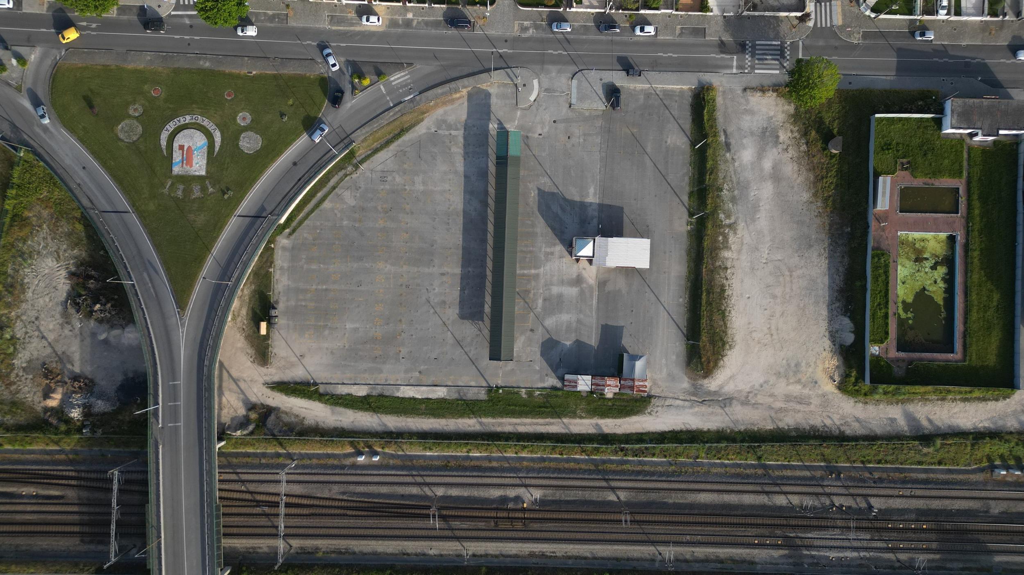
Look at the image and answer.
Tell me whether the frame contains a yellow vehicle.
Yes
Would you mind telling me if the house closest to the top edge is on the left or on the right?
right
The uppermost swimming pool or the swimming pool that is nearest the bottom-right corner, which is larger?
the swimming pool that is nearest the bottom-right corner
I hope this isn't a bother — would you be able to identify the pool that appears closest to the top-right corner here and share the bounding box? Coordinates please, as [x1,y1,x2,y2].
[898,185,960,214]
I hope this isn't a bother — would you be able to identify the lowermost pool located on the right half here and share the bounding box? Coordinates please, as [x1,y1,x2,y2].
[896,233,957,354]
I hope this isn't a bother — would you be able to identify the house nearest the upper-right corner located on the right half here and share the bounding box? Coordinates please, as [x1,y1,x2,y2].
[934,99,1024,140]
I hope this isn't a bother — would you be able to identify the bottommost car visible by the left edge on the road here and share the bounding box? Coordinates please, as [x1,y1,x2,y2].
[33,103,48,123]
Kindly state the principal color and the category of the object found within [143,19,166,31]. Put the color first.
black vehicle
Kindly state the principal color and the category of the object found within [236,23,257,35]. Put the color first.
white vehicle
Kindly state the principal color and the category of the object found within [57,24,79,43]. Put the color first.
yellow vehicle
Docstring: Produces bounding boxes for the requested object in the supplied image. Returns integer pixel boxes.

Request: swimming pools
[898,185,960,214]
[896,233,957,354]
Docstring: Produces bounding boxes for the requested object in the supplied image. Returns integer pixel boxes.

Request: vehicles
[309,122,329,143]
[611,87,622,110]
[143,19,166,31]
[323,47,337,71]
[236,23,257,35]
[1016,49,1024,58]
[33,103,48,123]
[330,88,342,109]
[57,24,79,43]
[915,28,936,40]
[552,20,572,31]
[634,25,656,35]
[0,0,12,8]
[599,21,620,32]
[447,16,471,28]
[361,13,381,24]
